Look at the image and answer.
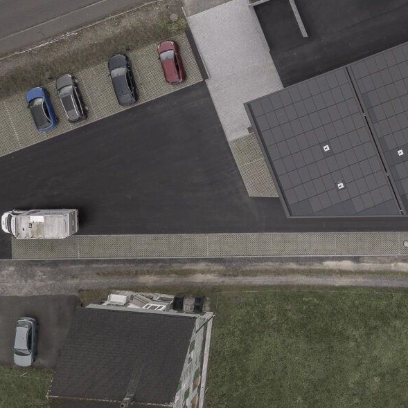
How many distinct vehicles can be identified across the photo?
6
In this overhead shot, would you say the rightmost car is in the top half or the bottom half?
top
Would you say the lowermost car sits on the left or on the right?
left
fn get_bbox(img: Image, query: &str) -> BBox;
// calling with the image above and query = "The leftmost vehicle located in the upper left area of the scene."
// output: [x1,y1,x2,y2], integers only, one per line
[27,88,58,131]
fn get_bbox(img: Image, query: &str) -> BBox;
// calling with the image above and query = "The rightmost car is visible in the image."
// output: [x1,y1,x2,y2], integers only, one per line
[158,40,188,83]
